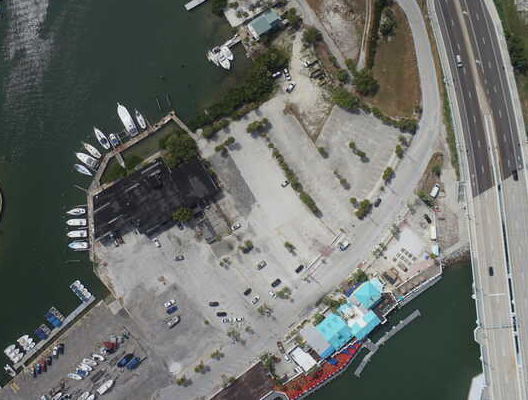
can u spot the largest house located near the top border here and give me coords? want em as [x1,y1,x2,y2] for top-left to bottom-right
[249,13,275,37]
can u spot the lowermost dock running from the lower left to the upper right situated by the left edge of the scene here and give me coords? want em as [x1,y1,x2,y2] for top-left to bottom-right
[15,294,95,366]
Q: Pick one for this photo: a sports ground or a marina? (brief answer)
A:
marina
